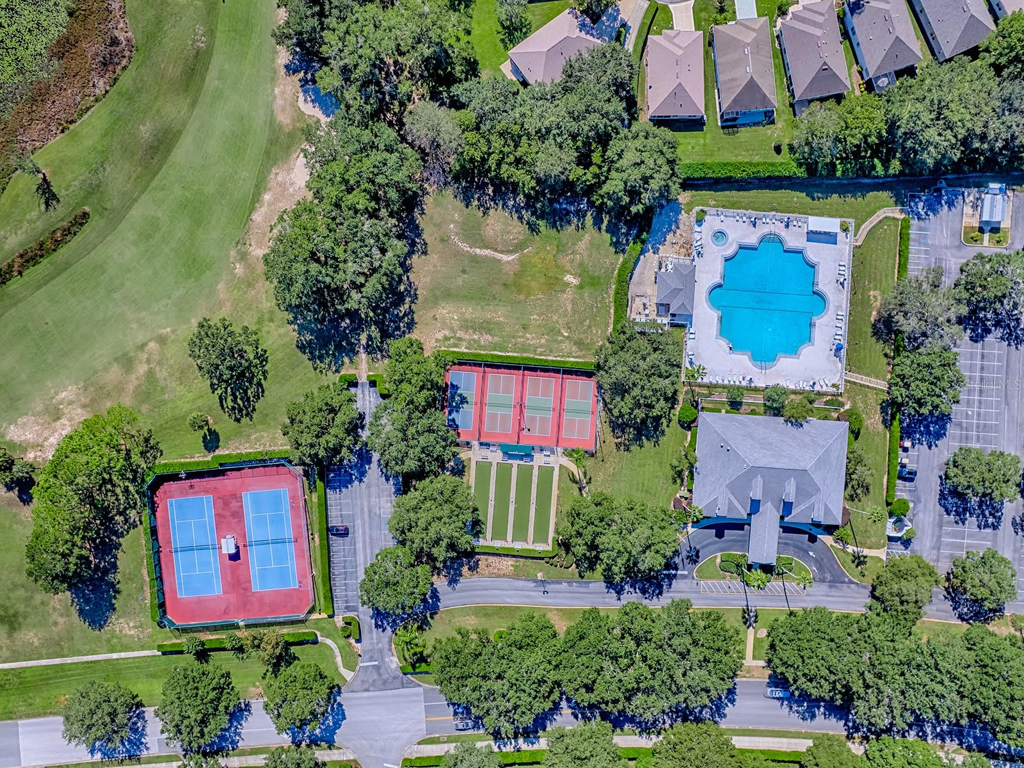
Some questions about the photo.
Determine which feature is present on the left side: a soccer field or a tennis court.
tennis court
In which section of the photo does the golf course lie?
top left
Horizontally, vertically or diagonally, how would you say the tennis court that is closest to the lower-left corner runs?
vertically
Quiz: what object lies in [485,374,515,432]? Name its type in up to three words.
sports court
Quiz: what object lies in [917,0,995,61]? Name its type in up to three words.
house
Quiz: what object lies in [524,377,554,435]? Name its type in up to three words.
sports court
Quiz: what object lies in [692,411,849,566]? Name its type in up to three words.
building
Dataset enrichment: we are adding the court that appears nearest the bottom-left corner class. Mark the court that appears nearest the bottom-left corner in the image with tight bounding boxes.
[166,493,224,600]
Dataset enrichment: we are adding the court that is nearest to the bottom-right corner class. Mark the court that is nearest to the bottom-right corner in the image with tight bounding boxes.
[563,380,593,438]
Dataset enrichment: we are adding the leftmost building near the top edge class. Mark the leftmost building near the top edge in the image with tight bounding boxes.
[508,3,606,88]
